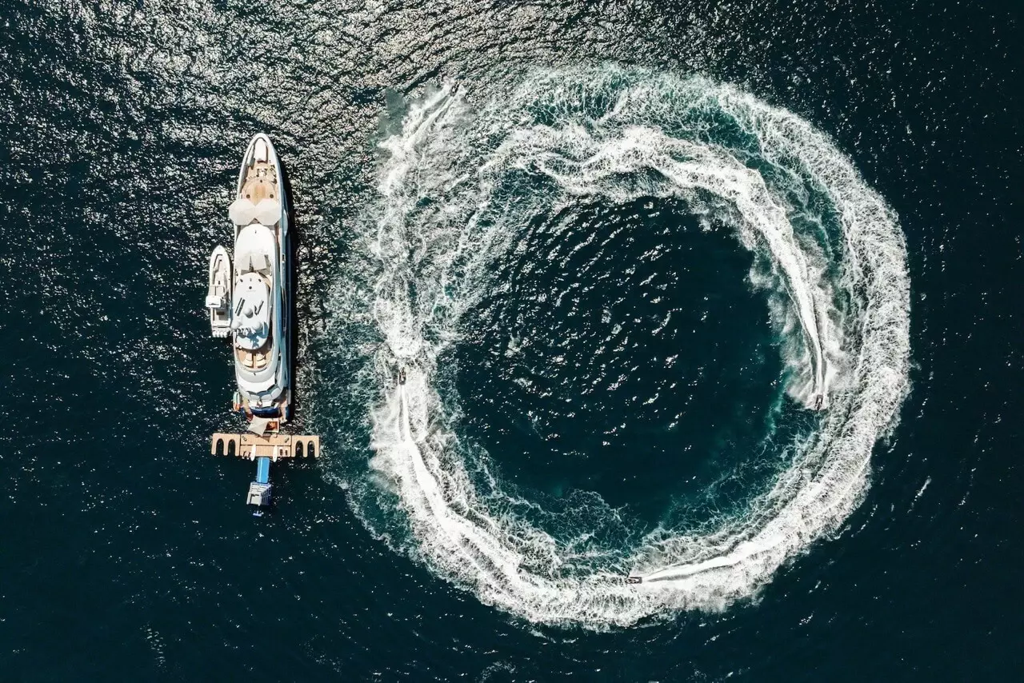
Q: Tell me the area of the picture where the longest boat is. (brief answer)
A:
left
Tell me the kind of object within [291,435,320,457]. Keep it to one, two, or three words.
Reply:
pier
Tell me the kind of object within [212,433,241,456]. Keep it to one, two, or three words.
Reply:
pier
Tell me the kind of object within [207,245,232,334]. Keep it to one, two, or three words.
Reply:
boat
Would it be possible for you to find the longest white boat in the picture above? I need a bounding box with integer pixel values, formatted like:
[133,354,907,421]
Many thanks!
[234,132,293,432]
